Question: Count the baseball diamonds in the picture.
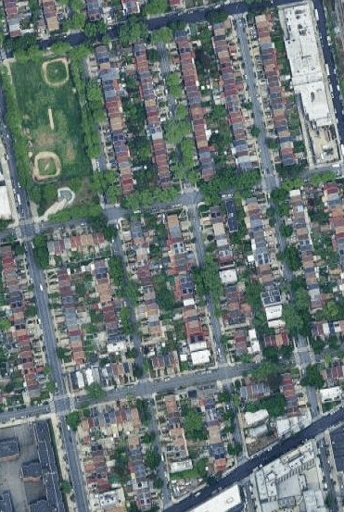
2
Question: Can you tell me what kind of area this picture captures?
residential area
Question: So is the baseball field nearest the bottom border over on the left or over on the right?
left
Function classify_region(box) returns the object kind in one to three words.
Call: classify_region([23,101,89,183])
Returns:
baseball field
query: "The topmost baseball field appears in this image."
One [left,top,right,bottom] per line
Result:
[12,54,78,110]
